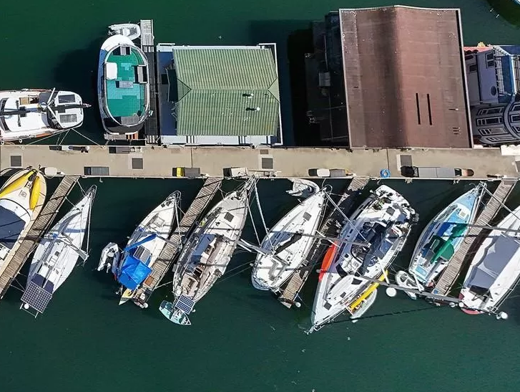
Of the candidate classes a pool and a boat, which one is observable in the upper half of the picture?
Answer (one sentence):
You can see a boat in the upper half of the picture.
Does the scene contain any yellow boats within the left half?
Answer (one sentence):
Yes, a yellow boat appears within the left half.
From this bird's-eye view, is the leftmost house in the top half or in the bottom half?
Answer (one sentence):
You can find the leftmost house in the top half.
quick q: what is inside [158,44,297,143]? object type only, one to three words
house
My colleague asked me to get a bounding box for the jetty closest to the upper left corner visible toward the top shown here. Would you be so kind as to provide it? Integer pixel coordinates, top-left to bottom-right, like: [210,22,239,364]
[138,19,155,143]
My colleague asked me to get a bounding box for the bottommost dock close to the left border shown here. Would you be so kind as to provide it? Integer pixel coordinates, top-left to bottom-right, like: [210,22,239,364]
[0,177,76,304]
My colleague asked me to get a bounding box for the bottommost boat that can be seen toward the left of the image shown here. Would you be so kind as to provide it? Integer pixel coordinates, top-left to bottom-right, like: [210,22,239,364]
[158,300,192,325]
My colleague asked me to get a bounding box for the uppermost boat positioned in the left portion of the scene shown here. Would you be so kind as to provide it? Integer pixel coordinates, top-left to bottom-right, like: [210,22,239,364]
[105,20,141,41]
